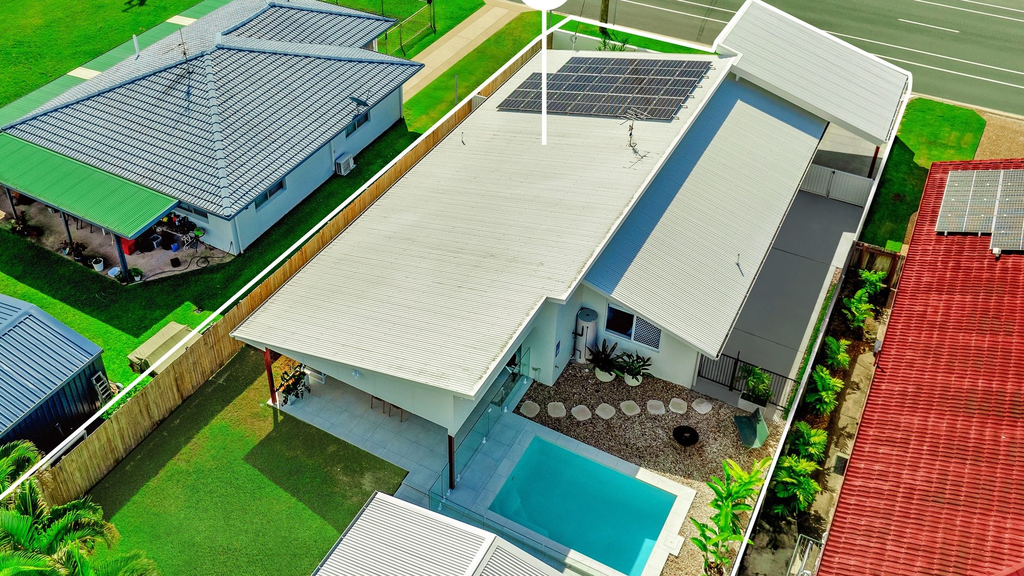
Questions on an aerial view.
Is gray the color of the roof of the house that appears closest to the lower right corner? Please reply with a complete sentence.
No, from above the roof of the house that appears closest to the lower right corner looks red.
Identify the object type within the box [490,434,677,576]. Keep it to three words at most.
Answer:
swimming pool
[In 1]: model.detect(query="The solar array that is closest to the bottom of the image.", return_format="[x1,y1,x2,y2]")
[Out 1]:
[935,164,1024,257]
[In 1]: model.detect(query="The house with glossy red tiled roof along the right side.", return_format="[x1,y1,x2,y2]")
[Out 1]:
[810,155,1024,576]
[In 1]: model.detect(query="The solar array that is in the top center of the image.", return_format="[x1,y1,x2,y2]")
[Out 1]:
[498,55,716,122]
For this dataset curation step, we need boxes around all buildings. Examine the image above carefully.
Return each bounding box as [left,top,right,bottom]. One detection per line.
[224,45,831,489]
[810,155,1024,576]
[0,294,113,508]
[307,489,566,576]
[0,0,427,253]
